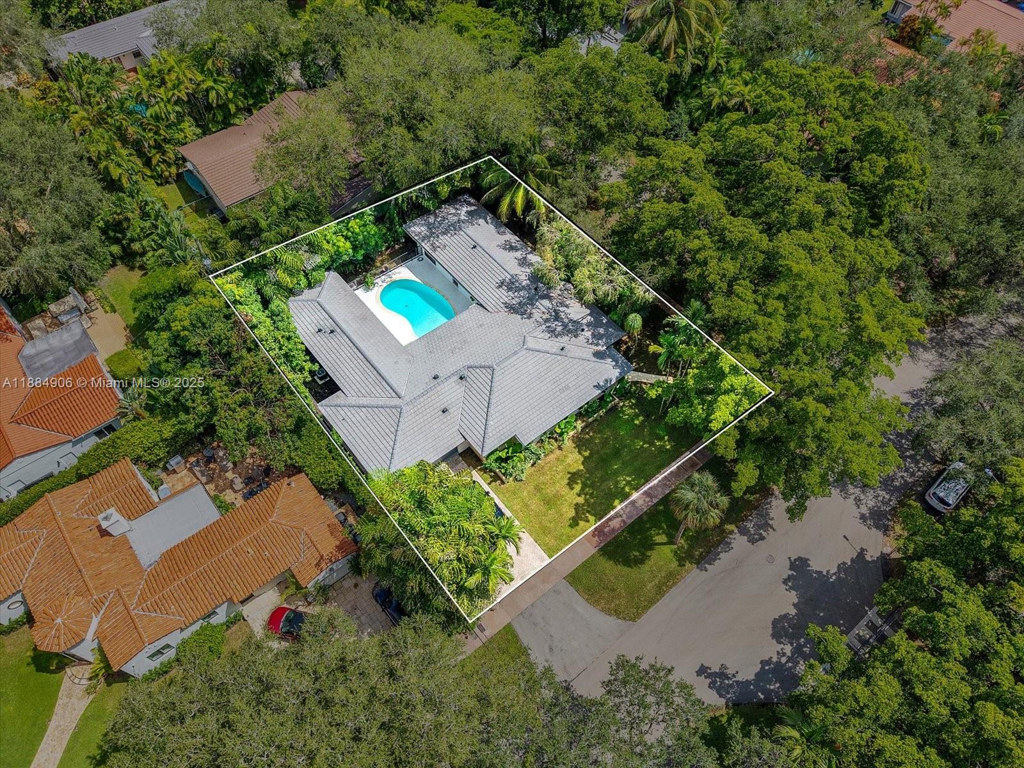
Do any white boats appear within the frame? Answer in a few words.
No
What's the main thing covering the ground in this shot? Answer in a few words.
trees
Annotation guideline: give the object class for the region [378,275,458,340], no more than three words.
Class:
swimming pool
